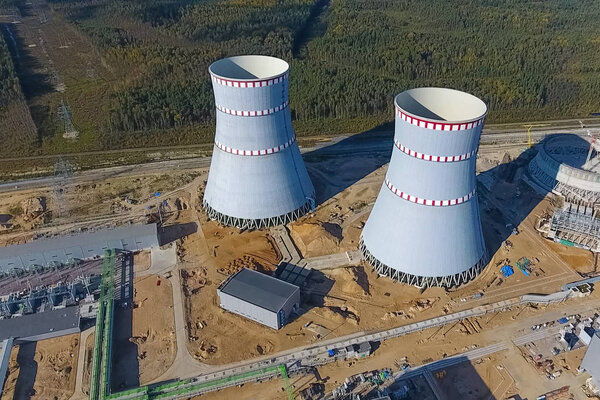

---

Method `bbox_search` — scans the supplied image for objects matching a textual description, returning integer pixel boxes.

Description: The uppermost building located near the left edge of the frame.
[0,221,159,269]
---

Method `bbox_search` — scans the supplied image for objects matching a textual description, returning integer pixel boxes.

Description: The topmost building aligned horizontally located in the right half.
[527,206,600,246]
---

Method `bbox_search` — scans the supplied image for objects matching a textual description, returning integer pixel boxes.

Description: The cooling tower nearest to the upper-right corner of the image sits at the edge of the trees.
[526,132,600,207]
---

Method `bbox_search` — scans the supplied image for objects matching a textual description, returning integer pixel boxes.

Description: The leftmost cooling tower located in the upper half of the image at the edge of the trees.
[203,53,315,230]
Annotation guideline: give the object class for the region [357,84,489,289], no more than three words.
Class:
cooling tower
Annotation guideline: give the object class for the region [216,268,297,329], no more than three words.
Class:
building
